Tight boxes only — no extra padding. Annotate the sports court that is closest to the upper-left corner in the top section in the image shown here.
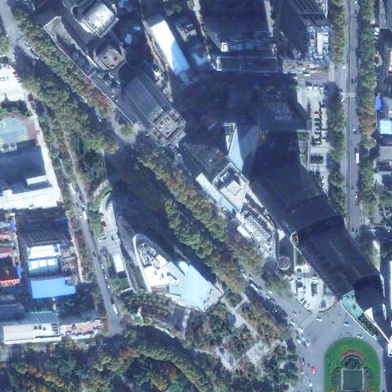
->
[0,112,39,157]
